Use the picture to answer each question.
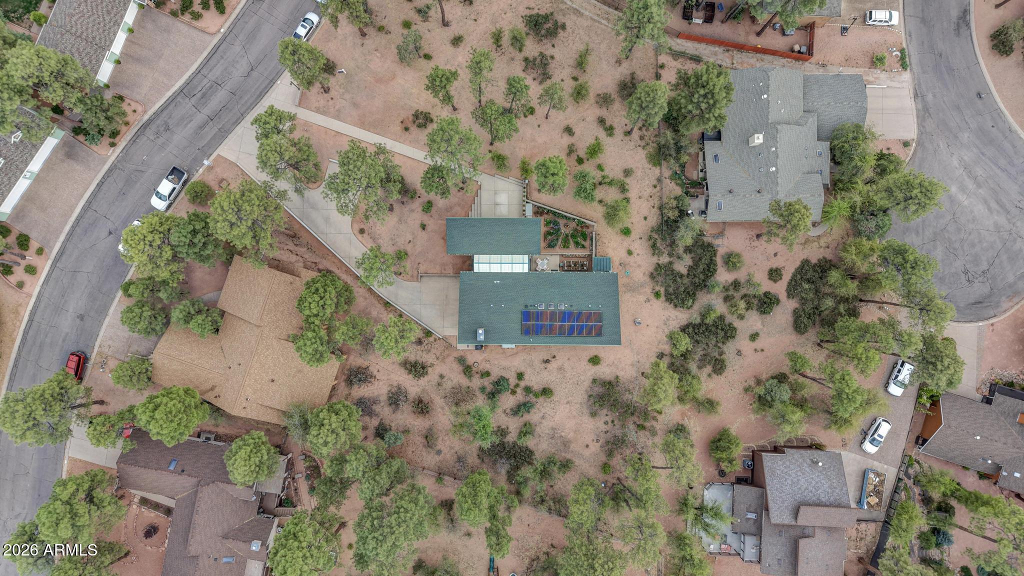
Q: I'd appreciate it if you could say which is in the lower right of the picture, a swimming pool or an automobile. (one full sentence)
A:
The feature located in the lower right of the picture is an automobile.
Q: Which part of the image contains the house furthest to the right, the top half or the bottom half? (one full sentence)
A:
The house furthest to the right is in the bottom half of the image.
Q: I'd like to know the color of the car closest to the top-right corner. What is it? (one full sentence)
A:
The car closest to the top-right corner is white.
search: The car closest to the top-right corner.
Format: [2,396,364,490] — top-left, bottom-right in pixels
[860,9,901,30]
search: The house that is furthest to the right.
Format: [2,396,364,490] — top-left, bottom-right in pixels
[919,391,1024,492]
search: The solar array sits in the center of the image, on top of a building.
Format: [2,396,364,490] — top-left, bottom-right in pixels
[522,312,602,335]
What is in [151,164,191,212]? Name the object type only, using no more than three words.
truck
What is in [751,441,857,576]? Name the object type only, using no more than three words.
house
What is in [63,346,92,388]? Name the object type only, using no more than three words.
car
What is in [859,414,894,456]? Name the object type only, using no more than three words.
car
